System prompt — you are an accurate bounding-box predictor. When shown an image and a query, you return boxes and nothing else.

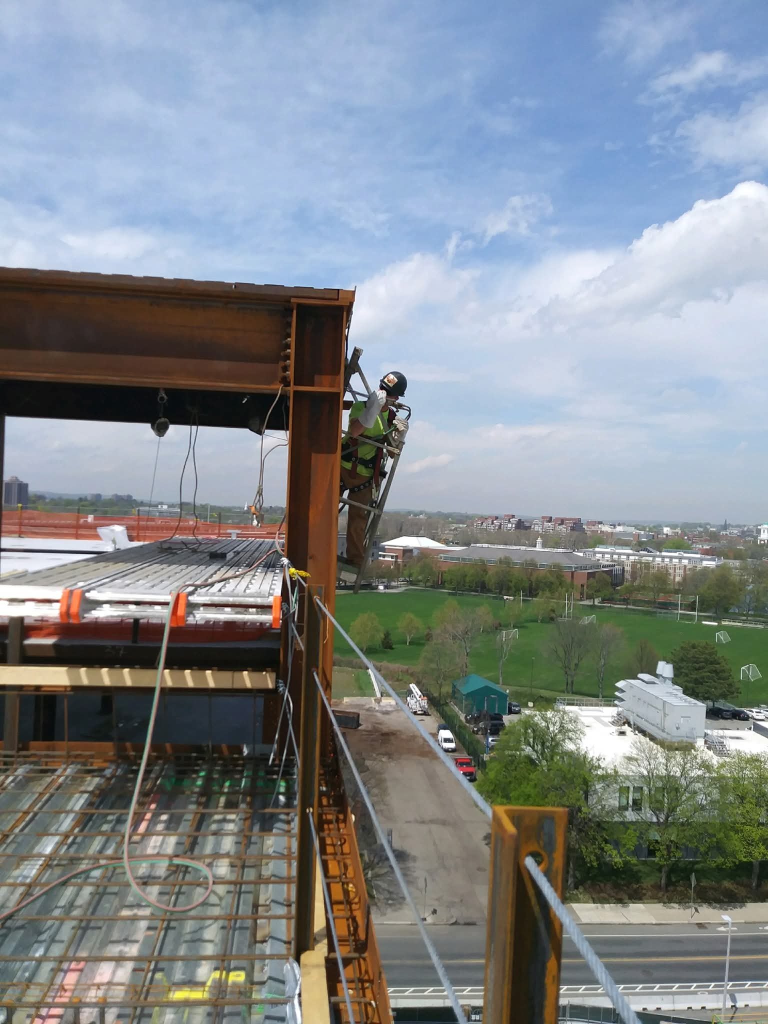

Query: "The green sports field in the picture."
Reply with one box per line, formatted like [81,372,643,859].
[337,587,768,701]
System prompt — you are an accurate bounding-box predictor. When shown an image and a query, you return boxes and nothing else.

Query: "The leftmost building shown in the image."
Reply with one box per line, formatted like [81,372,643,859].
[7,476,38,511]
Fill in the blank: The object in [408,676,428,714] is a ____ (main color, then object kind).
white vehicle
